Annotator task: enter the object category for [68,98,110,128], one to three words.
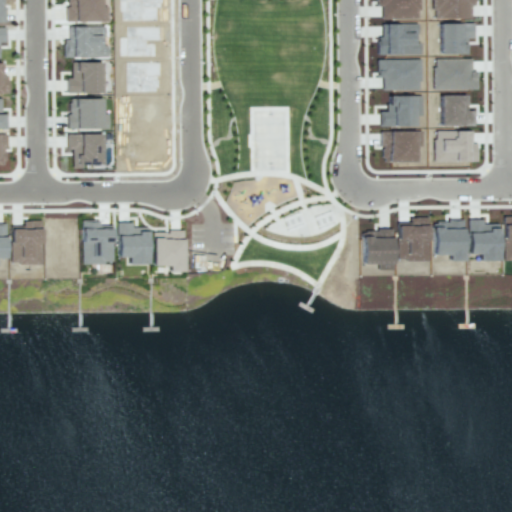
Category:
house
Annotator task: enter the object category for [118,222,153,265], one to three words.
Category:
house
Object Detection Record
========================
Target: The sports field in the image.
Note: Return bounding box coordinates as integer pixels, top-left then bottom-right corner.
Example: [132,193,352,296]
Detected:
[214,0,327,178]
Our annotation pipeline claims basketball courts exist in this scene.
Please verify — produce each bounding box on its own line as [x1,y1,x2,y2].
[248,106,290,172]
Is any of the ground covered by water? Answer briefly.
Yes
